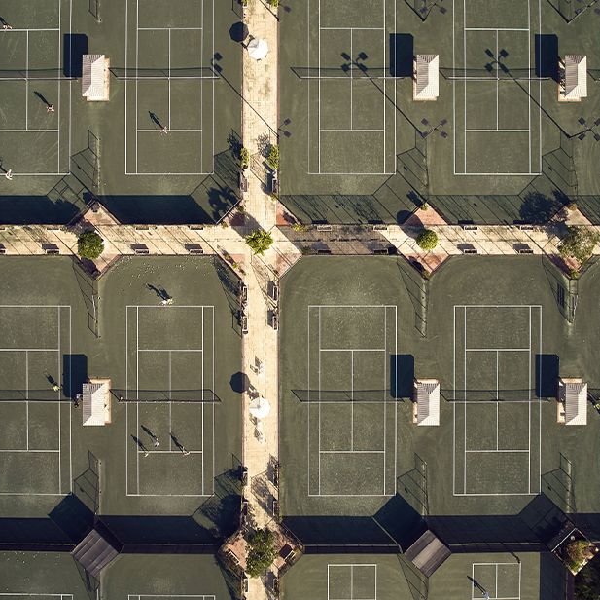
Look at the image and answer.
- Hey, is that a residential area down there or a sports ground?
sports ground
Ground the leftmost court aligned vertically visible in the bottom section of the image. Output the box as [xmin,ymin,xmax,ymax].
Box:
[0,256,97,543]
